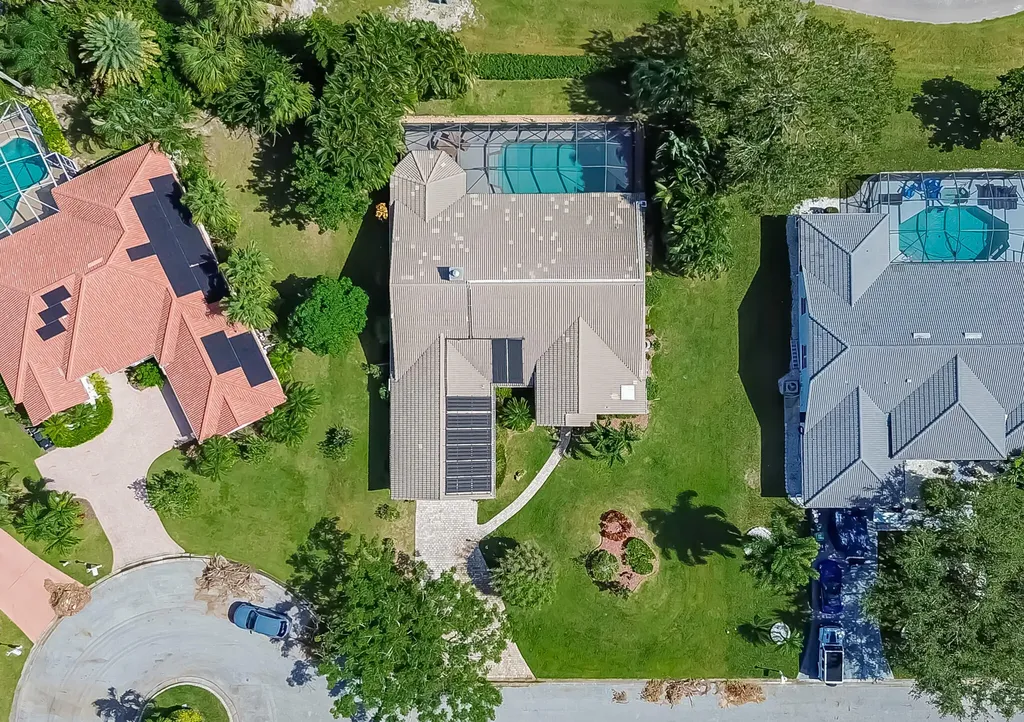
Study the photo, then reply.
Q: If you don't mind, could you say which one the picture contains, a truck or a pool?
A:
pool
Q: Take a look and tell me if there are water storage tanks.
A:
No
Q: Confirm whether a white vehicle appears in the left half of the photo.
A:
No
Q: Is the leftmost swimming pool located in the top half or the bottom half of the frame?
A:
top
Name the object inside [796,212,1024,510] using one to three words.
house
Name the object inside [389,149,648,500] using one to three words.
house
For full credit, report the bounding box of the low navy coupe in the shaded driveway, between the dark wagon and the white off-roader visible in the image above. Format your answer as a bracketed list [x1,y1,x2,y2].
[814,554,845,612]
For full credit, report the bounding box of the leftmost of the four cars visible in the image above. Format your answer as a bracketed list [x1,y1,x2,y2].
[229,599,293,640]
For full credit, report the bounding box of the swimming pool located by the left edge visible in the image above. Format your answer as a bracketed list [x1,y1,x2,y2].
[0,134,49,234]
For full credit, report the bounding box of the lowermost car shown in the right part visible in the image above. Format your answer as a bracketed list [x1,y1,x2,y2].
[810,621,843,686]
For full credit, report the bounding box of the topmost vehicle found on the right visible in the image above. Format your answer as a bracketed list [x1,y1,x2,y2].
[835,509,871,560]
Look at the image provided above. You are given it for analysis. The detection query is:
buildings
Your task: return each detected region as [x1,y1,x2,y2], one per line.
[0,142,288,443]
[389,149,648,500]
[796,212,1024,510]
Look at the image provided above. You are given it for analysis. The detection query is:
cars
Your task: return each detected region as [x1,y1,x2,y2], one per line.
[835,509,871,560]
[810,621,843,686]
[814,554,845,612]
[229,599,293,640]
